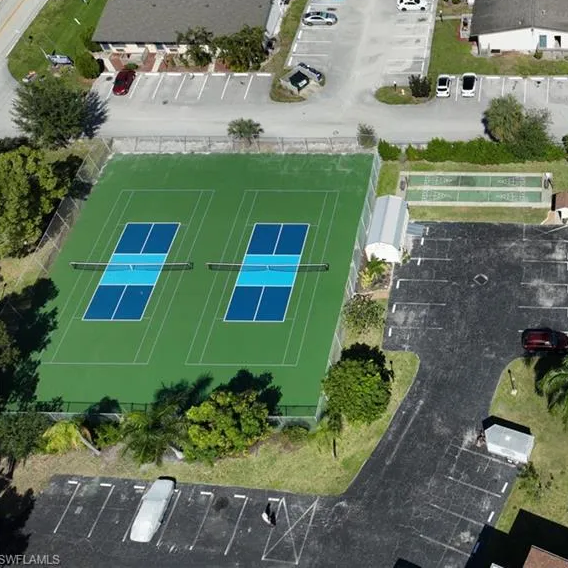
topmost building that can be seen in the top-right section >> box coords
[470,0,568,52]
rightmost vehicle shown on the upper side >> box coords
[460,73,477,97]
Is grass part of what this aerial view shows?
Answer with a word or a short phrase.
Yes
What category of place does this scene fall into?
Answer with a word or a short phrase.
sports ground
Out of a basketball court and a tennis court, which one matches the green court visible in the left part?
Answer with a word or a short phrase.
tennis court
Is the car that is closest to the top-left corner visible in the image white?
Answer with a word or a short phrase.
No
